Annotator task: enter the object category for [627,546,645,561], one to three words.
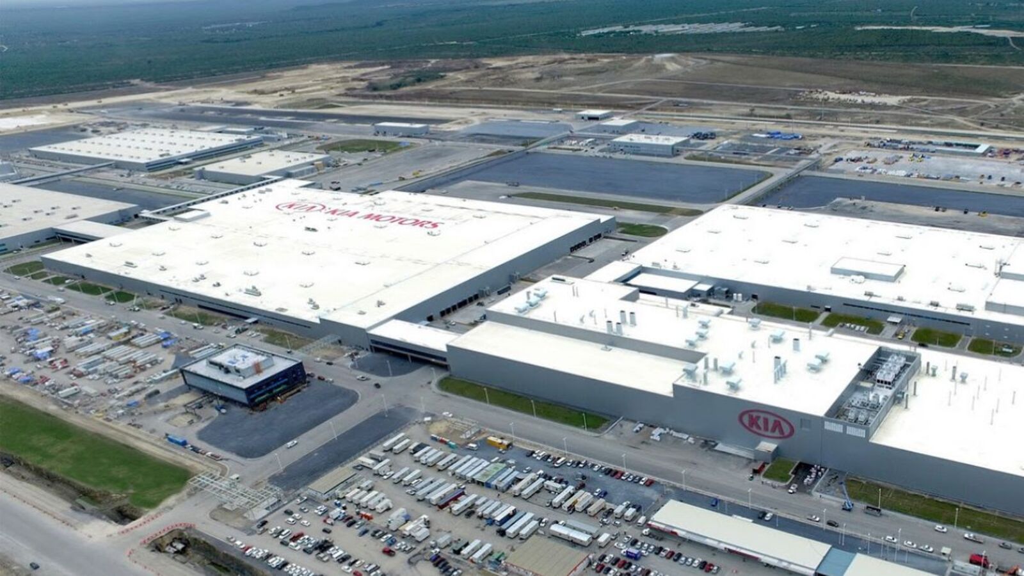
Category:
vehicle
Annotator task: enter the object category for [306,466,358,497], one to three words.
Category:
shed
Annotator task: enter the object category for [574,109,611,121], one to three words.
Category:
building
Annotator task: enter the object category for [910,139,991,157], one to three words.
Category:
shed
